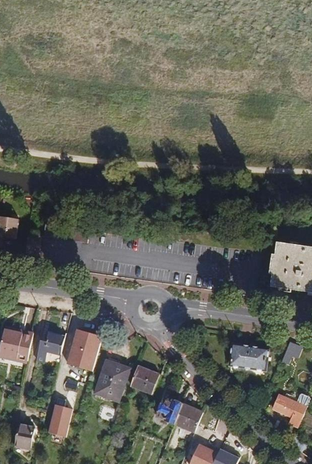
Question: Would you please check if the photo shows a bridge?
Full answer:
No, the photo shows no bridge.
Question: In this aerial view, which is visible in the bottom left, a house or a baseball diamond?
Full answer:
Visible in the bottom left is a house.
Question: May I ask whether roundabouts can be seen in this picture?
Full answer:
Yes, the frame does contain a roundabout.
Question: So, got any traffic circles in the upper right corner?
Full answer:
No, no traffic circle is visible in the upper right corner.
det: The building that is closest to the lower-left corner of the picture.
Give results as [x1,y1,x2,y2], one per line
[14,423,35,450]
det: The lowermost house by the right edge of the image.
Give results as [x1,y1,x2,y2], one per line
[272,394,308,430]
